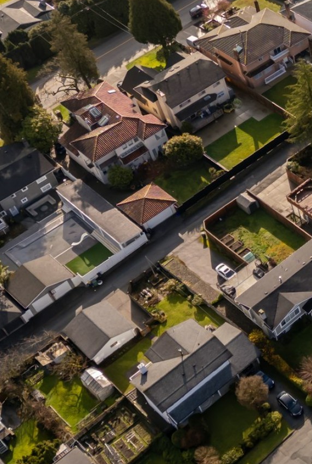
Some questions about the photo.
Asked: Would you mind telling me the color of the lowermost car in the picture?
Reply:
black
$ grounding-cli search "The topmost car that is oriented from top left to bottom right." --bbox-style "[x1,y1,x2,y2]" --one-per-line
[108,74,132,92]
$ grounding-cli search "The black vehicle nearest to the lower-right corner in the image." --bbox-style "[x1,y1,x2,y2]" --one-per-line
[276,392,306,418]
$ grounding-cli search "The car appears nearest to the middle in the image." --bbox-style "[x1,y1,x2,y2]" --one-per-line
[213,262,239,283]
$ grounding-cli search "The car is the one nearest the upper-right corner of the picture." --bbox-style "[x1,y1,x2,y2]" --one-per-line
[186,3,209,18]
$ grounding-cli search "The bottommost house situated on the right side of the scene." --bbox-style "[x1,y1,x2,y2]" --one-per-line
[127,316,262,434]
